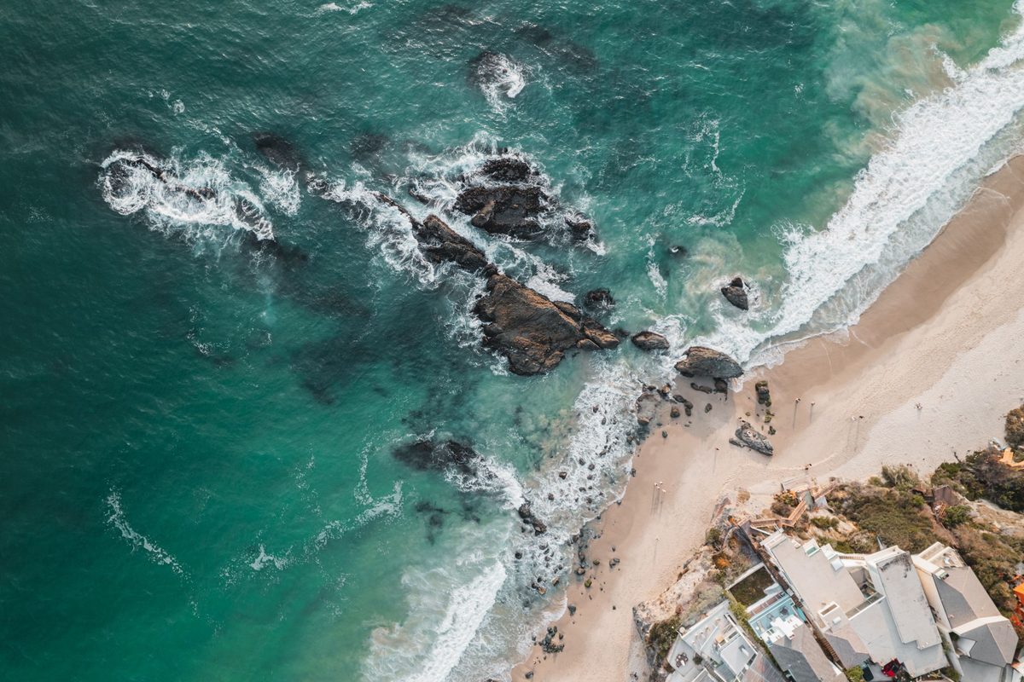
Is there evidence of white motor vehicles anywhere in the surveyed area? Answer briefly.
No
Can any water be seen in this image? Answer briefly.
Yes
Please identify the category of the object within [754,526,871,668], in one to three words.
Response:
house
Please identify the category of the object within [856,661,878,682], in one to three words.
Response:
car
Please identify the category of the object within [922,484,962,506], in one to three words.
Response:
shed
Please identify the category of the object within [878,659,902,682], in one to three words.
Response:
car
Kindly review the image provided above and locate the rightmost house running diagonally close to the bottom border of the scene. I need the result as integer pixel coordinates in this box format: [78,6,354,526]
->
[906,542,1018,667]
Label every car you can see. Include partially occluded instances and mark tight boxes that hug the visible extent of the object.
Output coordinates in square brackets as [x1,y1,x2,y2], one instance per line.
[878,659,902,682]
[856,661,878,682]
